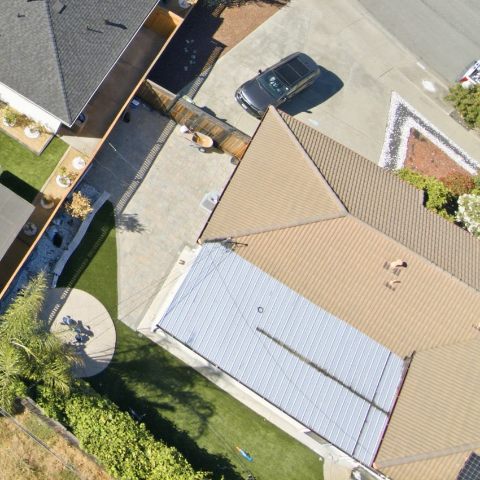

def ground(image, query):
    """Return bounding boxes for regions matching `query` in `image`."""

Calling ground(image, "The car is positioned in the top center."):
[228,52,328,114]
